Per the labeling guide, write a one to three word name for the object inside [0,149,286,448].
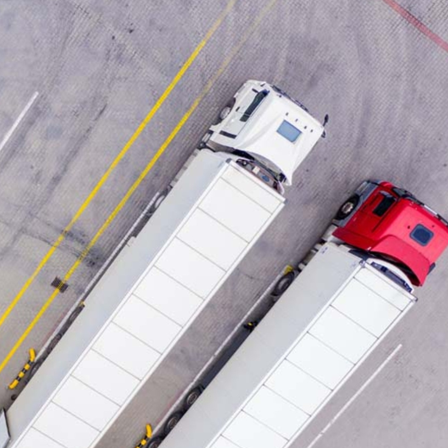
trailer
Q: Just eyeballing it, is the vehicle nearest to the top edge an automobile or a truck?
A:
truck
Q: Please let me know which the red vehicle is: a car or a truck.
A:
truck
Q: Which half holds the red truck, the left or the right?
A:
right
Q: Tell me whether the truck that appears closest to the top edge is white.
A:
Yes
